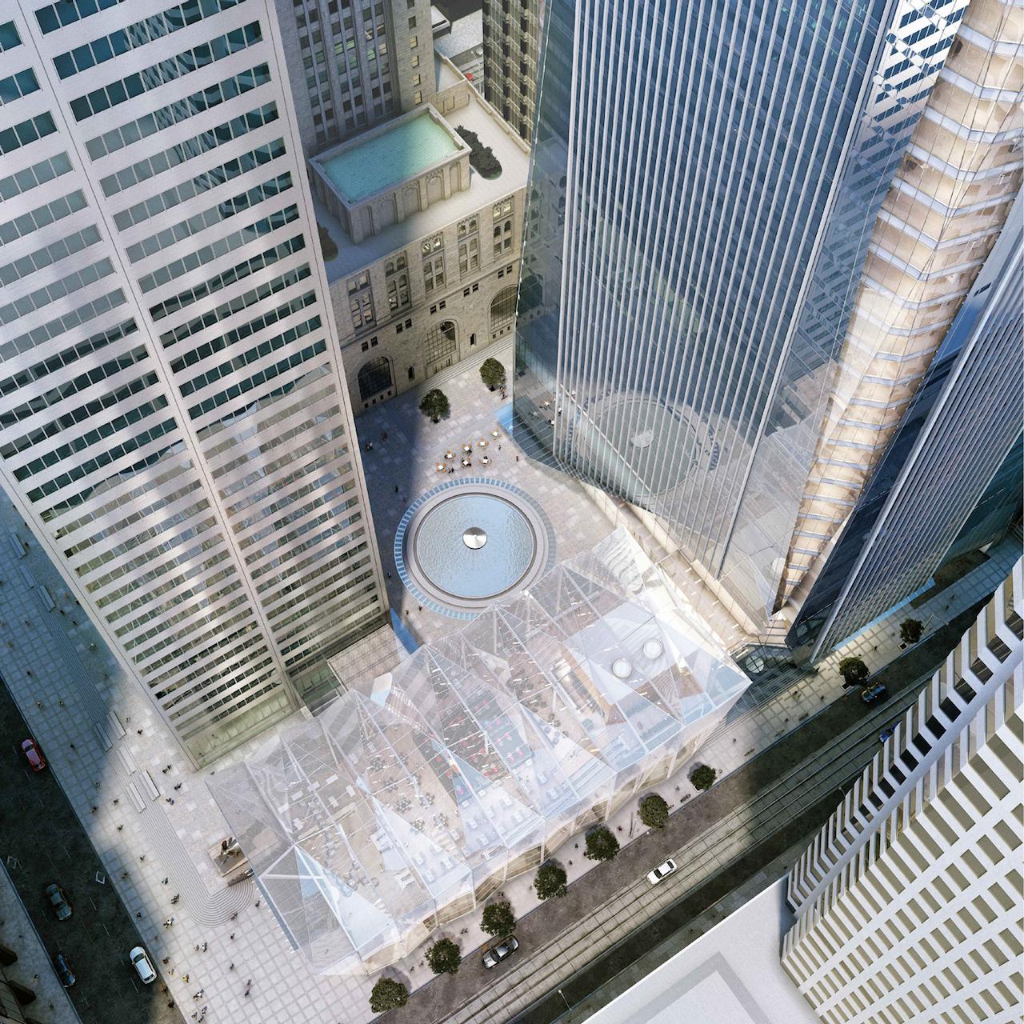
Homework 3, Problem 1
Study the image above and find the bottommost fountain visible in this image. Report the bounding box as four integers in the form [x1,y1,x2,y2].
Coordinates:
[394,477,557,621]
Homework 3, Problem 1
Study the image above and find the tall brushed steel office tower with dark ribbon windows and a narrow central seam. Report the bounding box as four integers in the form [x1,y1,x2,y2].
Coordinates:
[0,0,396,772]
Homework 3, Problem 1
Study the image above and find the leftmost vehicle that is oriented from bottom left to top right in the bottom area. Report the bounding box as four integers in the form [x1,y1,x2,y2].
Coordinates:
[480,934,522,970]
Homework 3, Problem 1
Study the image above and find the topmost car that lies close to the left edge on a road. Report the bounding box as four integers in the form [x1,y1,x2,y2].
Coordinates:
[20,740,49,777]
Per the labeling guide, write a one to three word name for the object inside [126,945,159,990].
car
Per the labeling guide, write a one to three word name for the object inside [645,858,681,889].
car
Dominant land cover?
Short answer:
buildings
